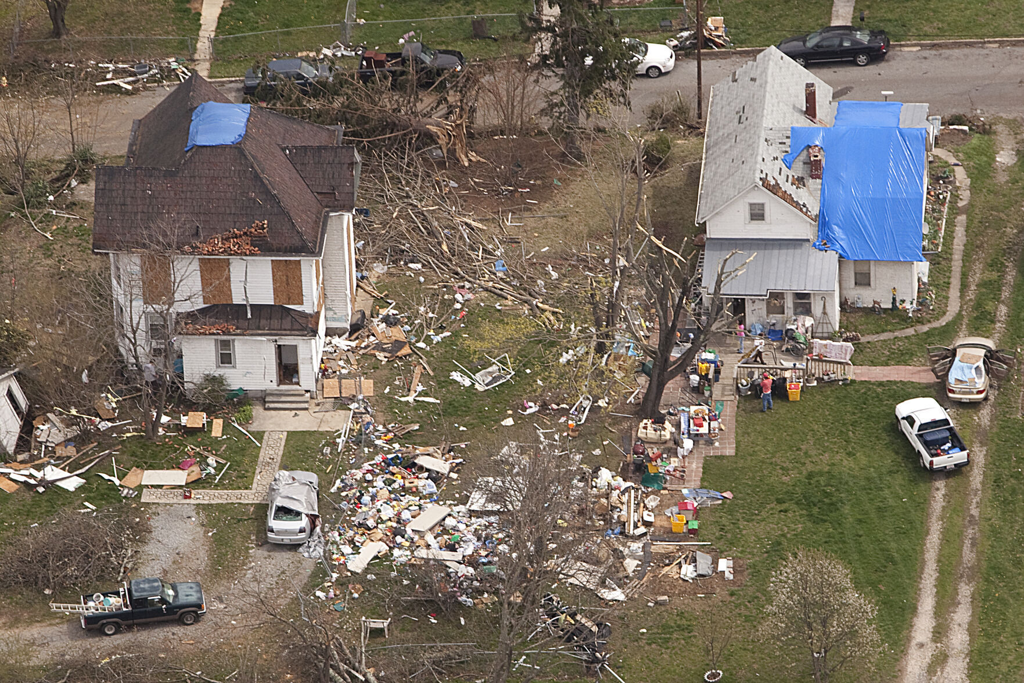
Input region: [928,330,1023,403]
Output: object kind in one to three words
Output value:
car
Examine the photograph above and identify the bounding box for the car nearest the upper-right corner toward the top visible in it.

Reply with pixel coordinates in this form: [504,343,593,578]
[777,23,894,67]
